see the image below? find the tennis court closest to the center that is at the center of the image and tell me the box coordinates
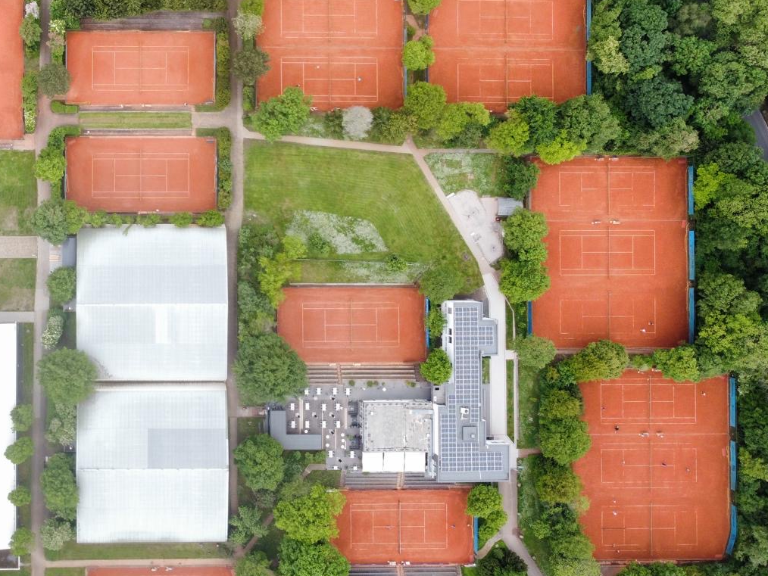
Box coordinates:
[277,287,426,363]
